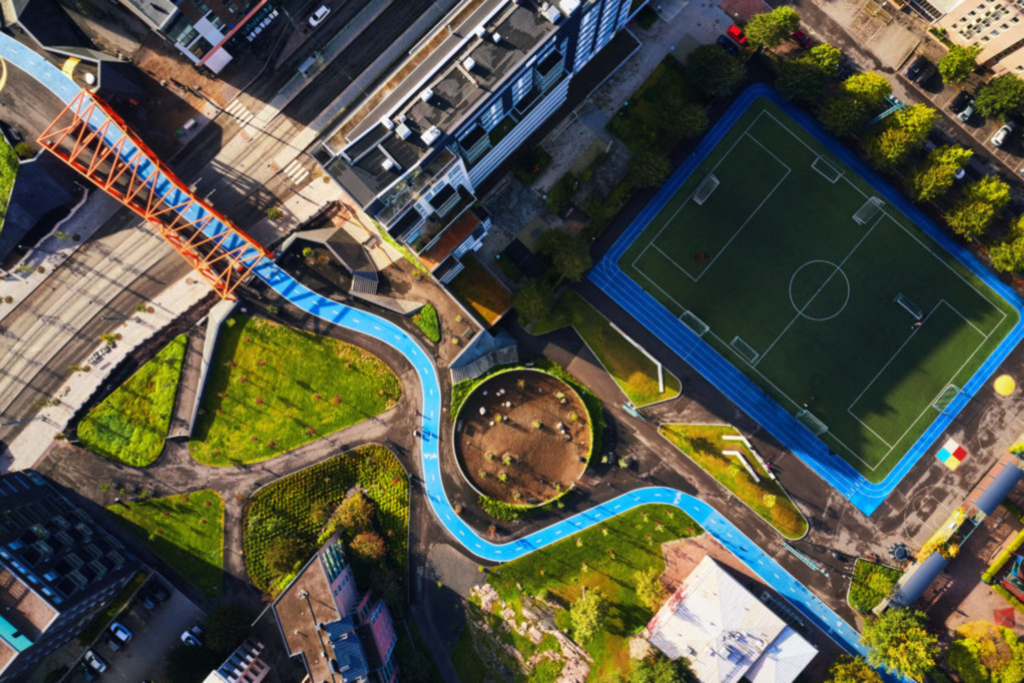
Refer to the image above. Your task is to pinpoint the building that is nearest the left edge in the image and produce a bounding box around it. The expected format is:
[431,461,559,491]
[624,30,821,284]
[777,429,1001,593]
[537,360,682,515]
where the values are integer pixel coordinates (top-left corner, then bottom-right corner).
[0,470,146,683]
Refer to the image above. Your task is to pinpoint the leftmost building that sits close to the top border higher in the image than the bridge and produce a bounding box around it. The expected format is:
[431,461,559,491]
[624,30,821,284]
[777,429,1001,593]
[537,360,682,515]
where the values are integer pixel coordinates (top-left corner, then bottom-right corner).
[123,0,269,81]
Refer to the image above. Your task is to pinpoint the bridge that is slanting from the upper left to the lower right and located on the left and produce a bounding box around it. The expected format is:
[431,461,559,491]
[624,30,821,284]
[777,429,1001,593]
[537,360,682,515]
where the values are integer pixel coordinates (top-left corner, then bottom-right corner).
[36,90,285,304]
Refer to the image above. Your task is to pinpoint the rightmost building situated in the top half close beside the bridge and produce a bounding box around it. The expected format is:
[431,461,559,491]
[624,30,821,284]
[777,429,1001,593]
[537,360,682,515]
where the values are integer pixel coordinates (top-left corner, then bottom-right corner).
[305,0,672,290]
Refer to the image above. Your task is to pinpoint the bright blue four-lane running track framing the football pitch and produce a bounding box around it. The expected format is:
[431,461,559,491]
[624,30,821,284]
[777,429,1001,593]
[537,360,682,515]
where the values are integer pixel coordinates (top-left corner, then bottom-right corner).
[588,80,1024,516]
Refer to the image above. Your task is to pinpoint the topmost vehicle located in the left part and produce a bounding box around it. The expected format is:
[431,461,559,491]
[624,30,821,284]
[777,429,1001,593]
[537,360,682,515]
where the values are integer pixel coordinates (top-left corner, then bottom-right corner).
[307,6,331,28]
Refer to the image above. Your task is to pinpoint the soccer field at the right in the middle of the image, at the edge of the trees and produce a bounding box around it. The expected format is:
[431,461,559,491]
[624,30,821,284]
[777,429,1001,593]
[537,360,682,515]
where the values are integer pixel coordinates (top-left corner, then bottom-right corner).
[621,99,1018,481]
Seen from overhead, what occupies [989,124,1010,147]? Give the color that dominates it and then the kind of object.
white car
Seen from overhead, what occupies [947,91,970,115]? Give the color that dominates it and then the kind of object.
black car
